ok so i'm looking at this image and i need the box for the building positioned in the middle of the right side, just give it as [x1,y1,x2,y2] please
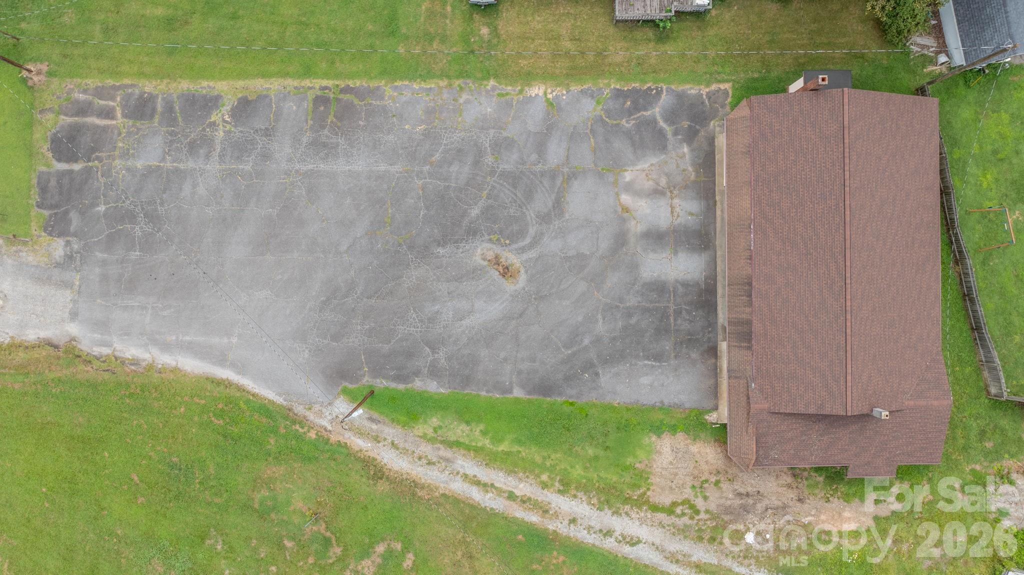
[722,75,952,478]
